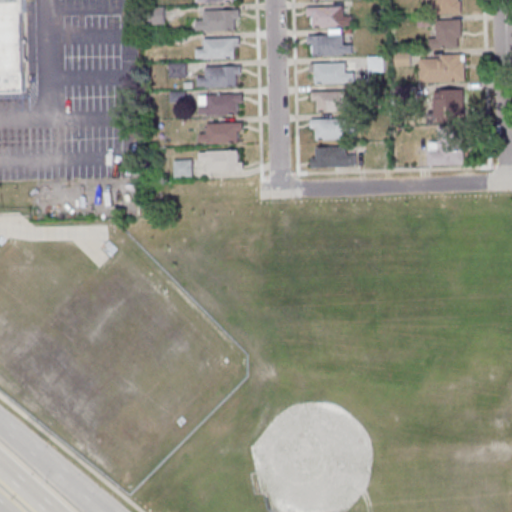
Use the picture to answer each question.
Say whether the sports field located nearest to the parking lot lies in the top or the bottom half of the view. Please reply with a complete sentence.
It is in the bottom half that the sports field located nearest to the parking lot appears.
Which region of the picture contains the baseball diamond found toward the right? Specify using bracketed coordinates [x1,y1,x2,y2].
[250,400,374,512]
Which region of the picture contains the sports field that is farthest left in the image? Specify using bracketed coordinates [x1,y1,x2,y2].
[0,226,248,494]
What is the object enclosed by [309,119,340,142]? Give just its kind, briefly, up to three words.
house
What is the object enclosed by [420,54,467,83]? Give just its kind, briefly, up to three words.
house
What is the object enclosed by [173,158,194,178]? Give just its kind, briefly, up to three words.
building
